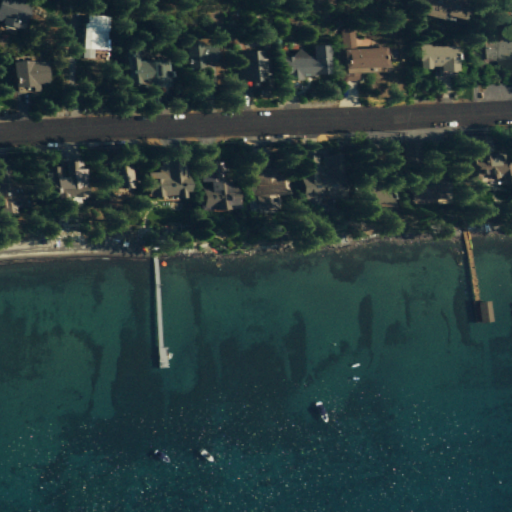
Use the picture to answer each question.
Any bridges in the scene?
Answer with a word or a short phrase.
No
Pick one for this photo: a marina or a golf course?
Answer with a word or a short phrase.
marina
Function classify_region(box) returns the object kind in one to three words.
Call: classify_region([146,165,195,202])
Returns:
house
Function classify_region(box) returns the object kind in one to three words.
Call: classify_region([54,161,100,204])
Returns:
house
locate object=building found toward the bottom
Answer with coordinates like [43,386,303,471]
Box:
[476,300,494,323]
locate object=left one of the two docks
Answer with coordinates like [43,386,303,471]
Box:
[152,255,170,367]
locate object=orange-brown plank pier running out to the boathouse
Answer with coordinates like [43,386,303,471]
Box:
[462,233,478,302]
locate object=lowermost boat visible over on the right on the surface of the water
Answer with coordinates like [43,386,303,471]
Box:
[315,401,328,422]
